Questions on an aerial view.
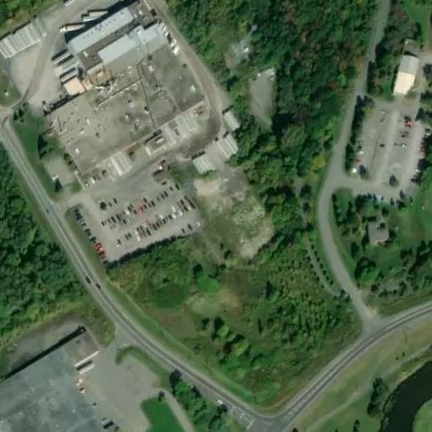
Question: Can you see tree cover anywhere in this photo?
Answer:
Yes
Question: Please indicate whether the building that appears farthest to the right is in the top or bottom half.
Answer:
top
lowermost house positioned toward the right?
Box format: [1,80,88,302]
[368,225,388,246]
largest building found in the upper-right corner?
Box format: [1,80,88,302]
[394,41,421,96]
